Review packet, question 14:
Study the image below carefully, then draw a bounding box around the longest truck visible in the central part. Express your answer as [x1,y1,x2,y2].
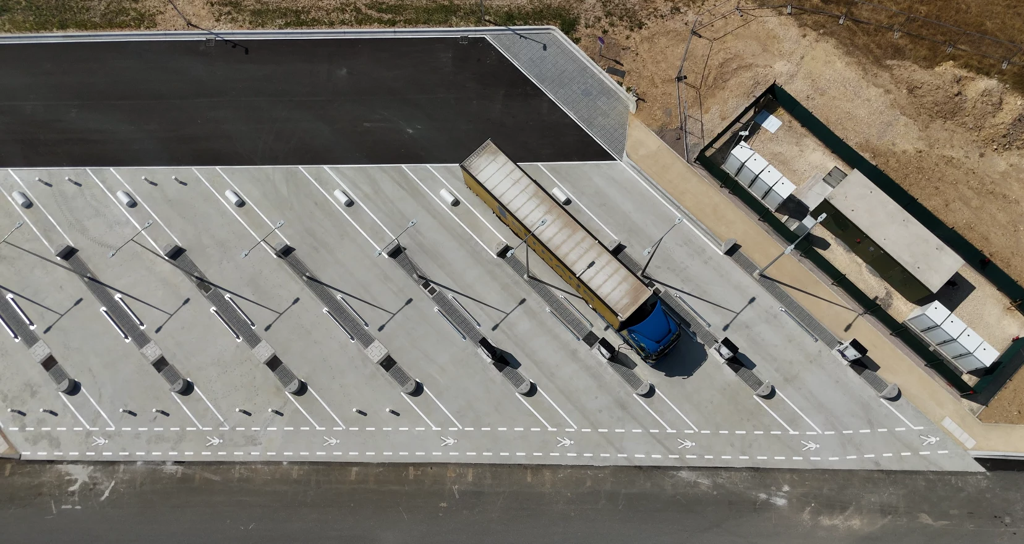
[460,137,682,363]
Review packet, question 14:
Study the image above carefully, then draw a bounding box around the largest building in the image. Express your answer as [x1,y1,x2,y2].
[811,169,965,302]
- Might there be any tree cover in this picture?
No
